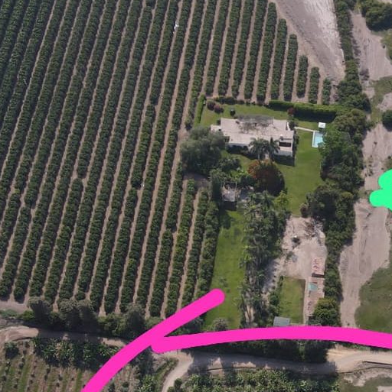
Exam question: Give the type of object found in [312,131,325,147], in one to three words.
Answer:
swimming pool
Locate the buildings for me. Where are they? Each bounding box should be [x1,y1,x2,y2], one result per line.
[212,118,293,158]
[223,191,237,204]
[311,258,325,276]
[274,317,290,329]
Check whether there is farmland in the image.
Yes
